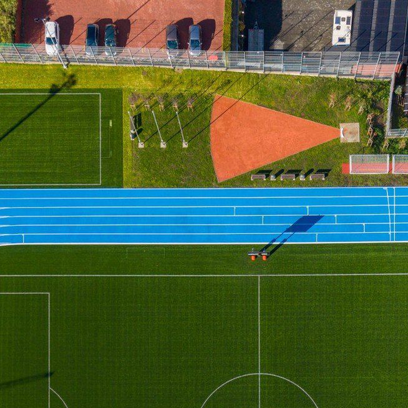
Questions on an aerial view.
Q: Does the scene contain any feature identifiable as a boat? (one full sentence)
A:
No, I can see no boat in this picture.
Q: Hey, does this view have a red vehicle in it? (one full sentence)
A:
No, no red vehicle is visible in the view.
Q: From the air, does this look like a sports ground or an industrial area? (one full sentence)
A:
This image shows a sports ground.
